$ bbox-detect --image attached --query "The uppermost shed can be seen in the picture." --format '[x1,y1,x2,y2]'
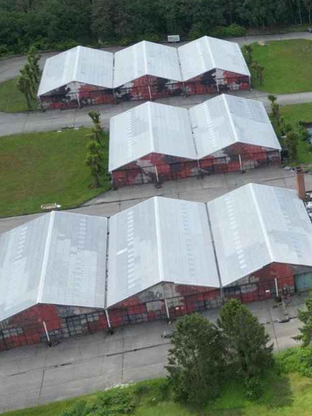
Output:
[36,35,253,112]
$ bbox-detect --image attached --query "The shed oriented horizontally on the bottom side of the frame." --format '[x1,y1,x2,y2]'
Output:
[0,181,312,350]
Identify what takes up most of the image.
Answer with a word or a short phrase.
buildings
